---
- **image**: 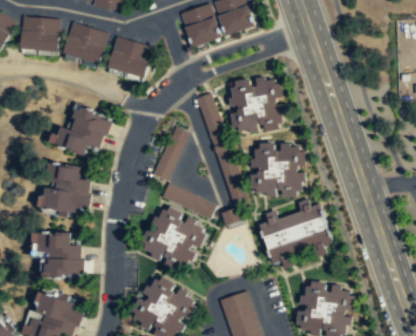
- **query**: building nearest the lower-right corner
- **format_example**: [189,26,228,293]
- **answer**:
[296,281,354,336]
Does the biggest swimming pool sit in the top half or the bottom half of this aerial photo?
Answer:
bottom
